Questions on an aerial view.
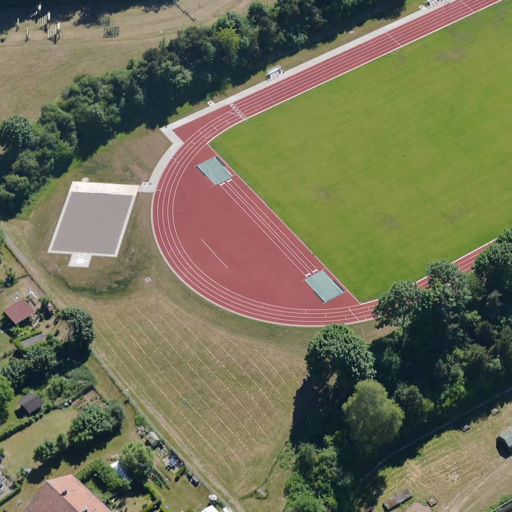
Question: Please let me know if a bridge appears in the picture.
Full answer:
No, there appears to be no bridge in this shot.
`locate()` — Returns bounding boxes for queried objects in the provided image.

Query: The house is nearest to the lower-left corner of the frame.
[24,474,109,512]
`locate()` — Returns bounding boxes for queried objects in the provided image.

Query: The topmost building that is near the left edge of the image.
[3,299,34,328]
